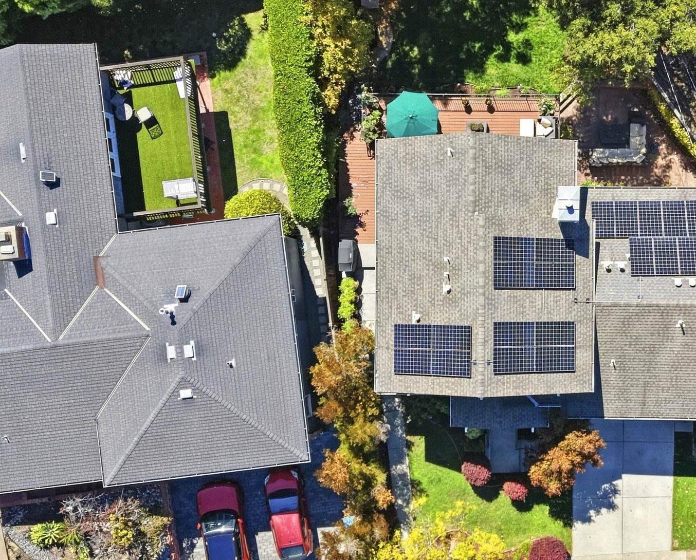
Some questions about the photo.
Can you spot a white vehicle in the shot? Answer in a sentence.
No, there's no white vehicle here.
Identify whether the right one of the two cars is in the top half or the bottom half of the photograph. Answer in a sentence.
Seen from above, the right one of the two cars lies in the bottom half of the view.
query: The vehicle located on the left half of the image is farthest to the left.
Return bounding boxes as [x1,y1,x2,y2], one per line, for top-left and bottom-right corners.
[197,483,255,560]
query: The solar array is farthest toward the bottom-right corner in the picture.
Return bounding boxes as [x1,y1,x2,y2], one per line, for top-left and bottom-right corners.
[494,322,575,375]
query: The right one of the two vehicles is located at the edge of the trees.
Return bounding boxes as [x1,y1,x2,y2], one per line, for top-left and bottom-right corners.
[263,469,315,560]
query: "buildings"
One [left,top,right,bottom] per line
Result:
[0,42,322,496]
[374,133,696,433]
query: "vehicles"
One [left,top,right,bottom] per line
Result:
[197,483,255,560]
[263,469,315,560]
